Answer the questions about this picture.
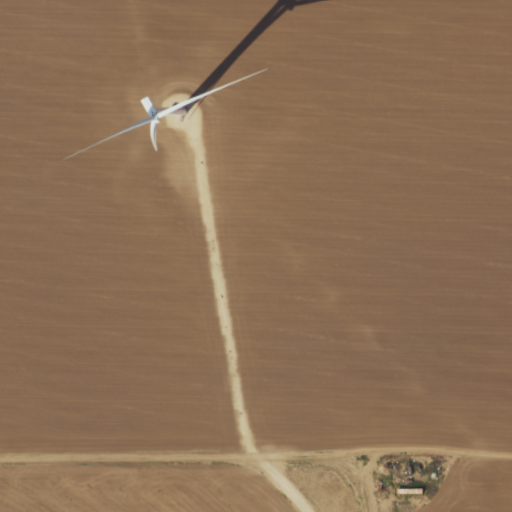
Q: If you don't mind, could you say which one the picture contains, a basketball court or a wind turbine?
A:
wind turbine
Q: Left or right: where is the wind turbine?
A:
left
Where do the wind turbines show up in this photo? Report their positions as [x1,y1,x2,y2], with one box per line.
[64,68,268,159]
